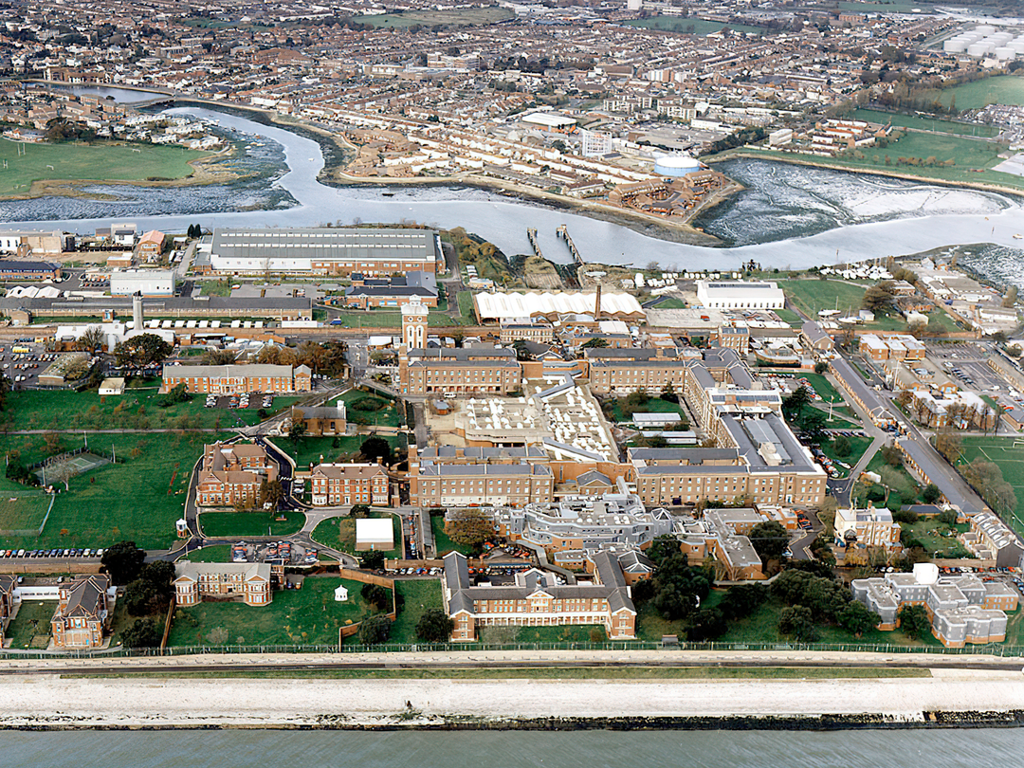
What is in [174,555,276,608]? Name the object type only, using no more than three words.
house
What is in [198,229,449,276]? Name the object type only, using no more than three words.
building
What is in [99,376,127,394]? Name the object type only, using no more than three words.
shed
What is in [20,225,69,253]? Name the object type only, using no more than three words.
shed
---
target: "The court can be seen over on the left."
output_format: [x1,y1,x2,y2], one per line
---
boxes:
[39,452,111,489]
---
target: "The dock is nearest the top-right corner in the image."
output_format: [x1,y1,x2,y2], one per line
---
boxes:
[552,219,585,265]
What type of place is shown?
residential area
